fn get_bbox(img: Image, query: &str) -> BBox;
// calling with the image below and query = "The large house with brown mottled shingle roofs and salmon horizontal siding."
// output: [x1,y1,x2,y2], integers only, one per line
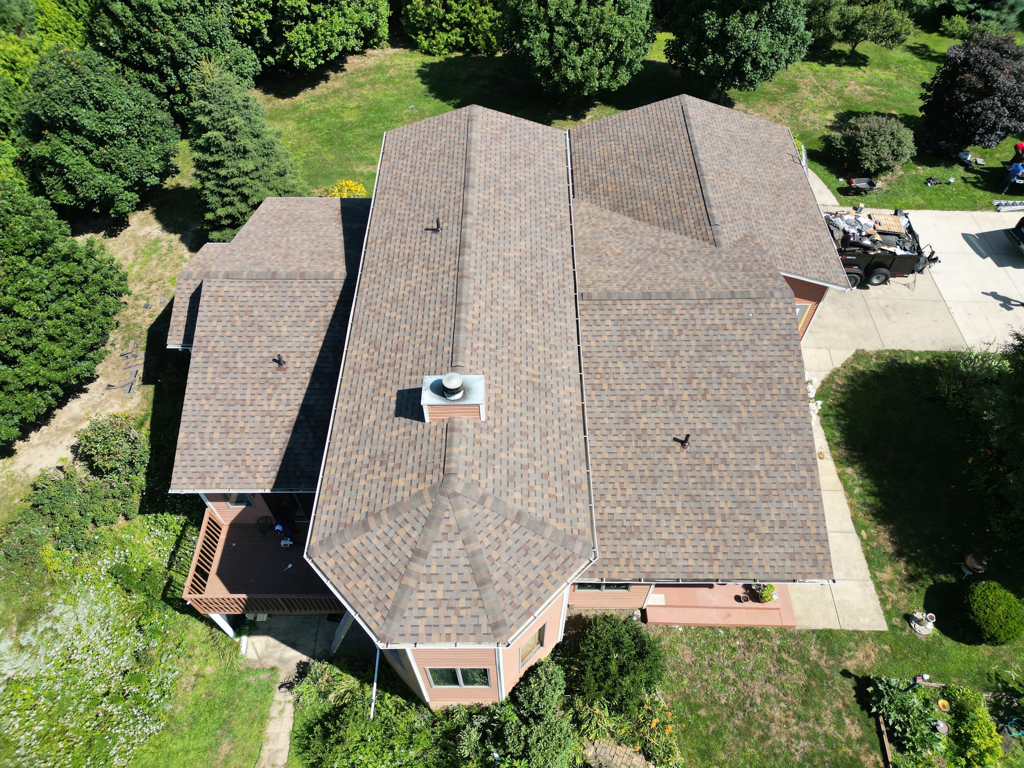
[166,95,853,714]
